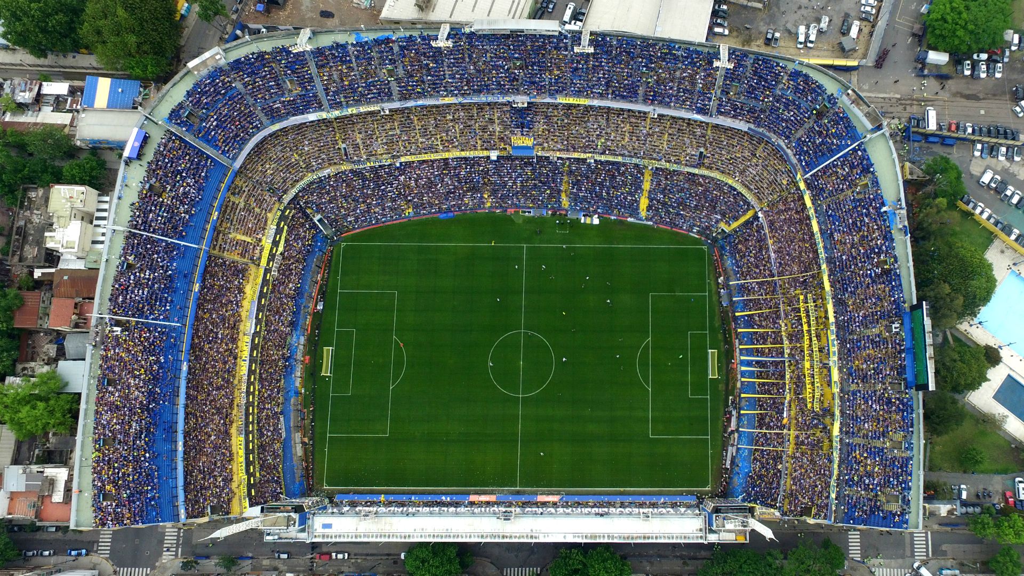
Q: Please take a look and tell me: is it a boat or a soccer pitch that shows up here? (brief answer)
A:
soccer pitch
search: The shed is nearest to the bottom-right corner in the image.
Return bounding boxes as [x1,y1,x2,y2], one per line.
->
[922,502,960,517]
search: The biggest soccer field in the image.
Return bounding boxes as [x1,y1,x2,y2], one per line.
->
[313,211,721,489]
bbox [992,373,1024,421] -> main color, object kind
blue swimming pool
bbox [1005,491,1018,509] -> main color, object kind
red vehicle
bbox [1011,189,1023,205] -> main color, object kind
white vehicle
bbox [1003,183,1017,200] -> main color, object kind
white vehicle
